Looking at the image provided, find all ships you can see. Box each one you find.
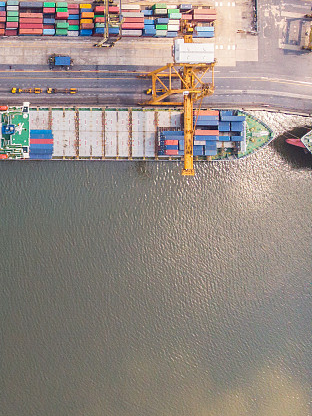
[286,126,312,153]
[0,102,274,163]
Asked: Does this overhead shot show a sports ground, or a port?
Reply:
port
